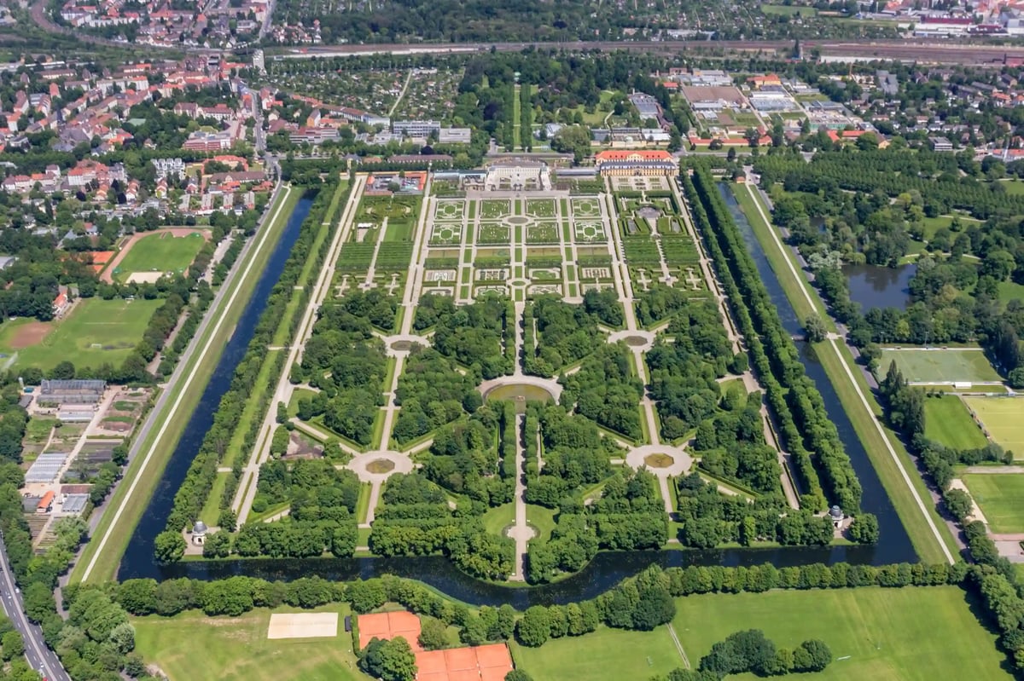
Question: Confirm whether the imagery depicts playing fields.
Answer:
Yes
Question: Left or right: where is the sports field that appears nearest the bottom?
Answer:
right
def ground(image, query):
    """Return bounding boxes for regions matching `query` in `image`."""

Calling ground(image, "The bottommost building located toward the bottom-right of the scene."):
[828,506,846,531]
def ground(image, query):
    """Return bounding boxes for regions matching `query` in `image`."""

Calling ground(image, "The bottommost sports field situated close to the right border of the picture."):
[964,396,1024,458]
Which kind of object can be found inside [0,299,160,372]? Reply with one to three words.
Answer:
sports field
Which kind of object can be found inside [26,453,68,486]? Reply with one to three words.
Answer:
greenhouse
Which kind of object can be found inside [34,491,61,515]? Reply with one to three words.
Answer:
house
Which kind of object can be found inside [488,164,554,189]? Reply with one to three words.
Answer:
building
